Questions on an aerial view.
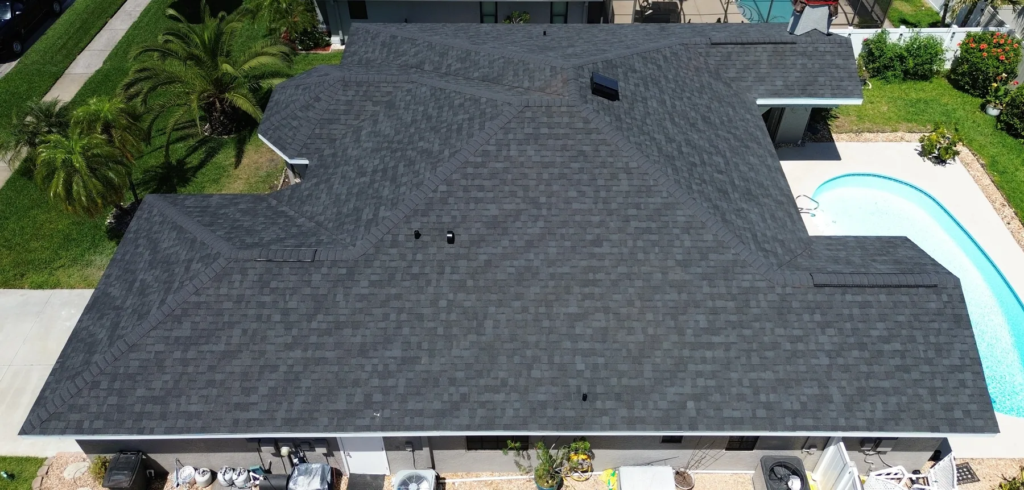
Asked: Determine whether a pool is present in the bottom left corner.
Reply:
No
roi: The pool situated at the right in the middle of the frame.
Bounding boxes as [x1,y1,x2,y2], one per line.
[809,171,1024,420]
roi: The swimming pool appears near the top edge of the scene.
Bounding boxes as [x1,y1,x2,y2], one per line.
[735,0,797,22]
